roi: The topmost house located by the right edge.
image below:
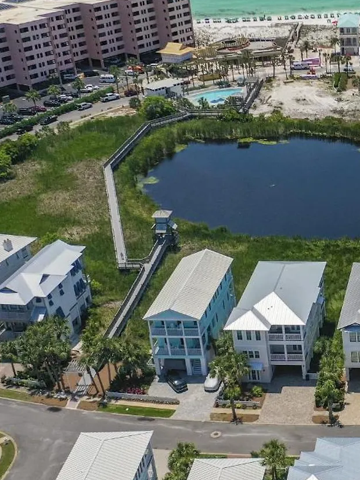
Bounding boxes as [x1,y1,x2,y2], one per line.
[337,13,360,54]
